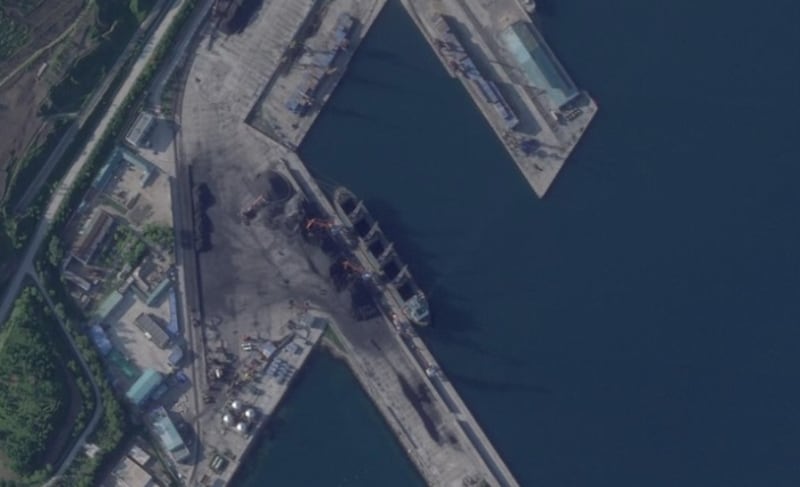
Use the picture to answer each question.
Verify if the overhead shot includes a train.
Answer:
No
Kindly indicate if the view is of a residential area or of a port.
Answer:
port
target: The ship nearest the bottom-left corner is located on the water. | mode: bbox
[318,176,430,347]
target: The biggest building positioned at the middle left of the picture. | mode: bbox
[71,208,112,263]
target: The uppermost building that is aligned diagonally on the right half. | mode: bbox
[504,19,580,109]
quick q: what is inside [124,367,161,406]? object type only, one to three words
building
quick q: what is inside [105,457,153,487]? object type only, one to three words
building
